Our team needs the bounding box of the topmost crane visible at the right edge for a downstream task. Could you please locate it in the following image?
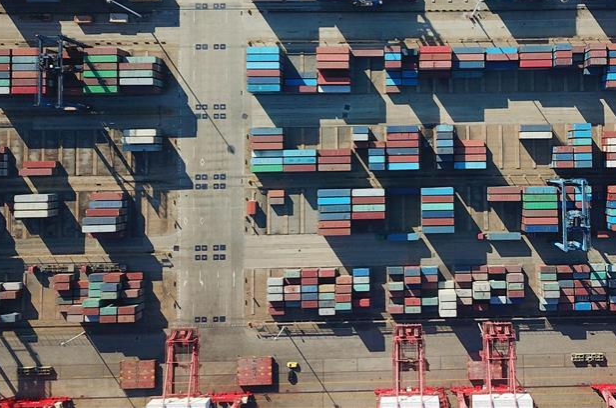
[543,176,590,248]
